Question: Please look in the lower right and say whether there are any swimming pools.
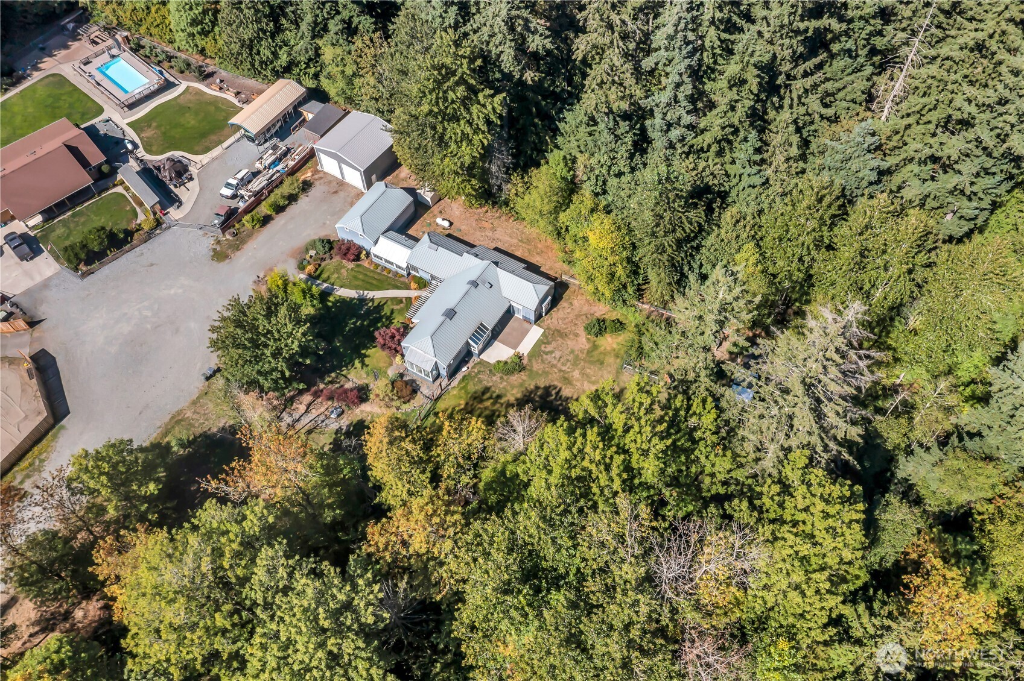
No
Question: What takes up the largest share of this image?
trees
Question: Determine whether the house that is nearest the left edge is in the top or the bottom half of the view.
top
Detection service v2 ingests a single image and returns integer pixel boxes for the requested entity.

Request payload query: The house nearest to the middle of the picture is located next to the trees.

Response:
[401,231,555,382]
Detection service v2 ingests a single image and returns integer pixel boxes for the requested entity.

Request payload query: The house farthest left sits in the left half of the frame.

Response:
[0,117,110,244]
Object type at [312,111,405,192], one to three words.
building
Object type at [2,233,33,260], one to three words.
truck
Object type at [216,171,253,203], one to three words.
truck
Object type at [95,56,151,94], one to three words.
swimming pool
